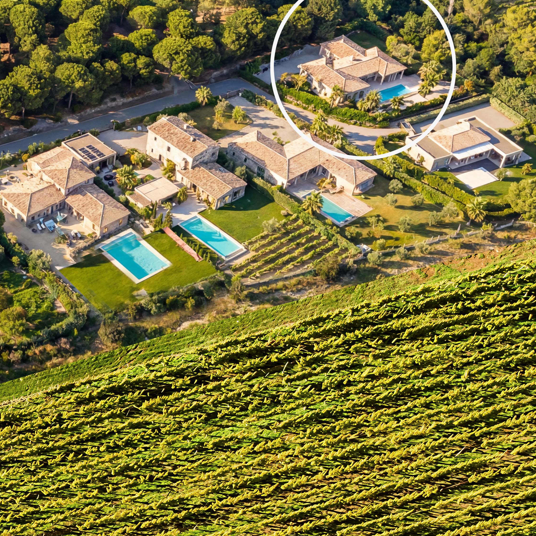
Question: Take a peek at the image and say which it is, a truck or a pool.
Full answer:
This aerial view contains a pool.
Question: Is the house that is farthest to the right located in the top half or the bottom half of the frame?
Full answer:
You can find the house that is farthest to the right in the top half.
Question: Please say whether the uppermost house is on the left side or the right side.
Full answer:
You can find the uppermost house on the right side of the picture.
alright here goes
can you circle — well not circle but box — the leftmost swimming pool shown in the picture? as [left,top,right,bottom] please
[94,228,177,284]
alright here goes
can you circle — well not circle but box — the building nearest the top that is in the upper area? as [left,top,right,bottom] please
[301,37,409,103]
